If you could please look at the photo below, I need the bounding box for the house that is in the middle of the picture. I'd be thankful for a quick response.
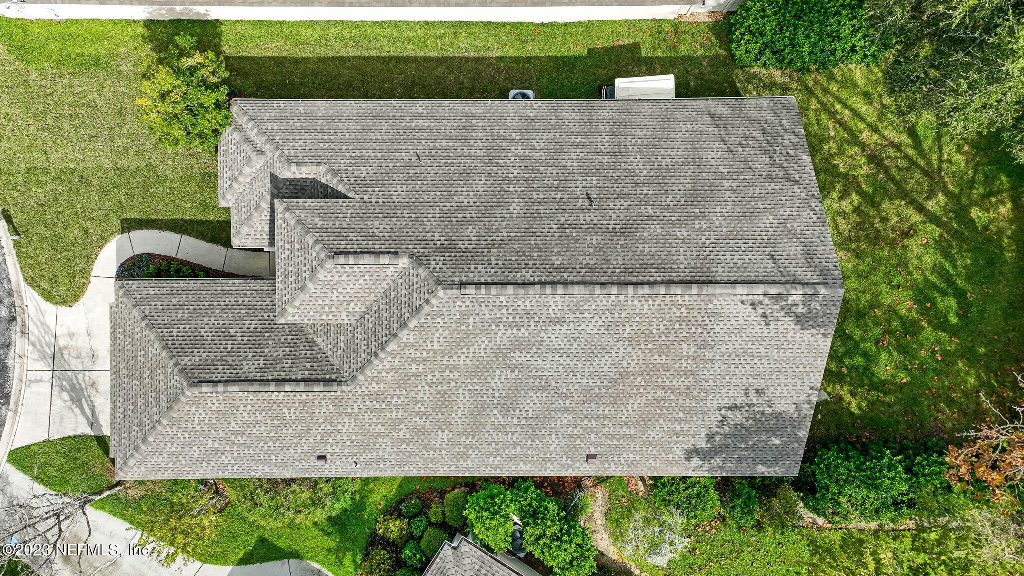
[111,96,844,478]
